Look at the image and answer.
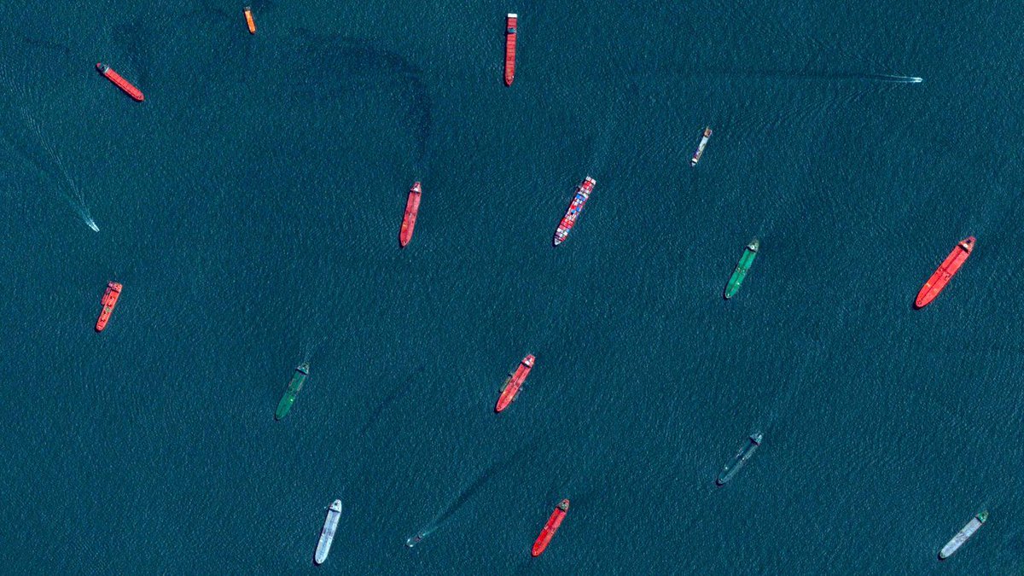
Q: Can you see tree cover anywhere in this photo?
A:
No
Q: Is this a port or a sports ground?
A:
port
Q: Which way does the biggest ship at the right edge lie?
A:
on a diagonal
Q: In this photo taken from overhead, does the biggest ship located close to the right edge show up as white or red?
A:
red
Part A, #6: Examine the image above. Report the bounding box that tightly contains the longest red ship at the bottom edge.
[532,498,569,556]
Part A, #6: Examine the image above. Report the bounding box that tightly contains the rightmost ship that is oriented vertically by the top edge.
[505,15,517,86]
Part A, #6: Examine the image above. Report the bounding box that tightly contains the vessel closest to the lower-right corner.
[941,510,988,558]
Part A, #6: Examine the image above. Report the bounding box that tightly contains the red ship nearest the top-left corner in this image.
[95,64,145,101]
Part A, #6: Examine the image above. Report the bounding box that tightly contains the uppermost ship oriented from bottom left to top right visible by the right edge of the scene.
[916,236,976,307]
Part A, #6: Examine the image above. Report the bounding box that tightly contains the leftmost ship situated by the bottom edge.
[315,499,341,564]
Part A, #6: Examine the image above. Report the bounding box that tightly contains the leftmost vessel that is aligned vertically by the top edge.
[244,6,256,34]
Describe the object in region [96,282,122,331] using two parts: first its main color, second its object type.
red ship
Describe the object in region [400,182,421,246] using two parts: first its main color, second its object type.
red ship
